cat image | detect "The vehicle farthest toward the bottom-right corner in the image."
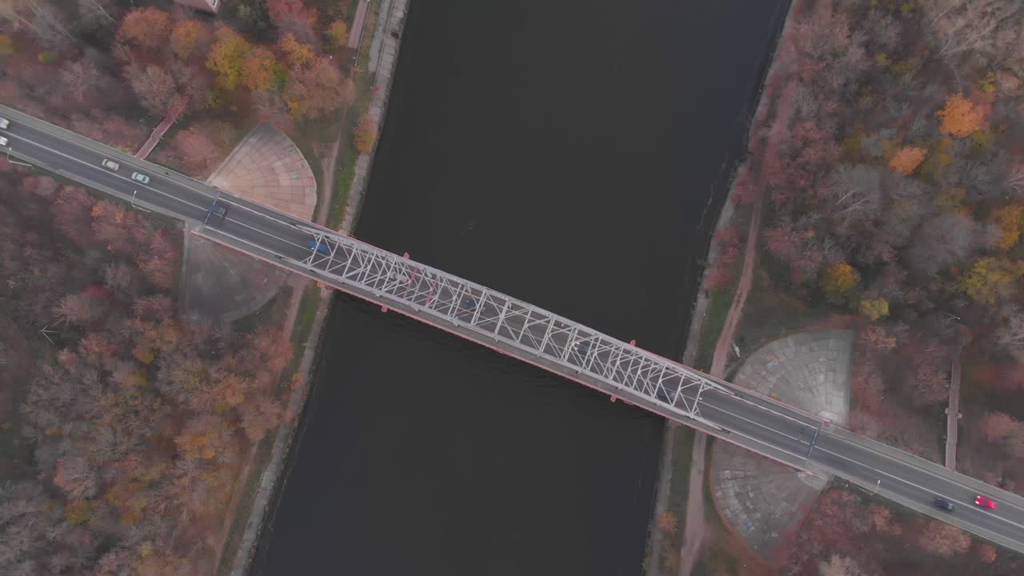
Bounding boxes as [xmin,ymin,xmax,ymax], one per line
[974,496,996,510]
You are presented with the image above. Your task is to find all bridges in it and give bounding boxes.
[184,179,847,481]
